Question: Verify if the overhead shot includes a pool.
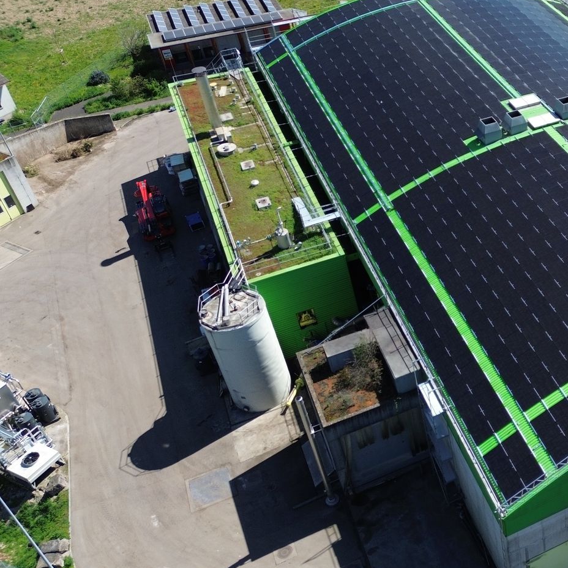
No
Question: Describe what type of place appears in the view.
industrial area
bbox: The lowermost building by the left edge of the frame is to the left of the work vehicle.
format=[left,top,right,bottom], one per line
[0,162,33,225]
